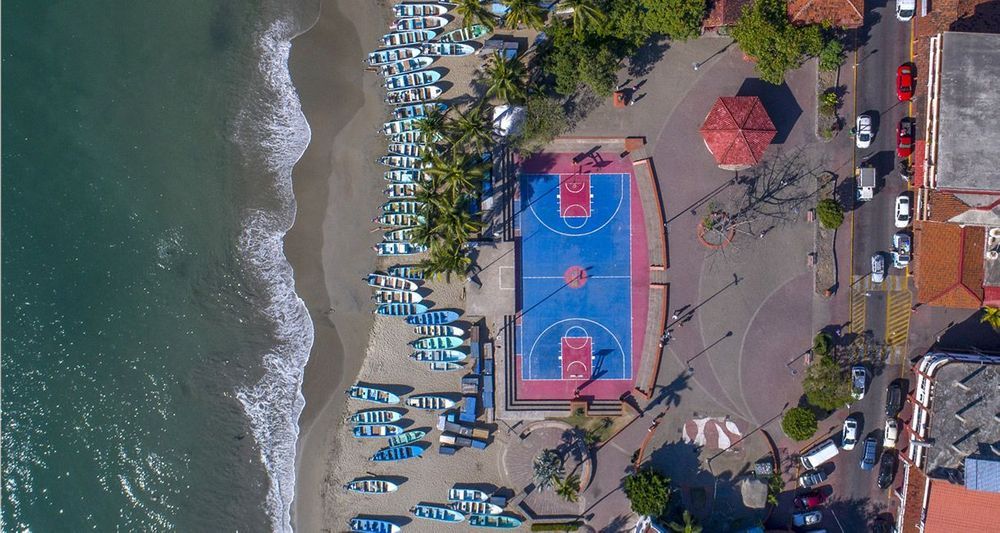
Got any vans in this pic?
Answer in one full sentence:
Yes, I can see a van in this picture.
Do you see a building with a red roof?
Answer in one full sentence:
Yes, looking at the shot, I can spot a building with a red roof.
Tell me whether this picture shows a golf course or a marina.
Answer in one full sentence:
The area seen from above is a marina.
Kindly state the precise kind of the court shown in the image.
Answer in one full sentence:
Specifically, the court is a basketball court.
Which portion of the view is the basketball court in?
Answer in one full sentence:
The basketball court is in the center part of the image.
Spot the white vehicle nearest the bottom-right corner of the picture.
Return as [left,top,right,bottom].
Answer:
[882,417,898,448]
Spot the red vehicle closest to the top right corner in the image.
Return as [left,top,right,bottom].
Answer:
[895,65,915,102]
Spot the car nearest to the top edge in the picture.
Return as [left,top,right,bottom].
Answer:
[896,0,917,23]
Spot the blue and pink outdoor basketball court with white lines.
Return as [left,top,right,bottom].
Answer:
[512,152,650,401]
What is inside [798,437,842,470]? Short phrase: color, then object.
white van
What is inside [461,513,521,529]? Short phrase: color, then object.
blue boat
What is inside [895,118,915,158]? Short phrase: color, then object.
red car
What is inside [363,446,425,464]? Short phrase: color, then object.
blue boat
